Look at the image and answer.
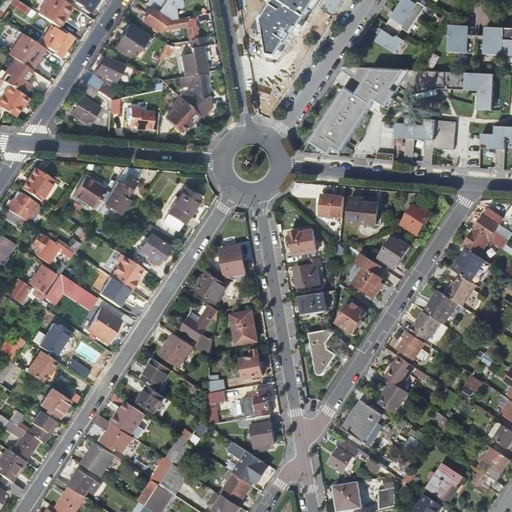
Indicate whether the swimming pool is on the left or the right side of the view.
left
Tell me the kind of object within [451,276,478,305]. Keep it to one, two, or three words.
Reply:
house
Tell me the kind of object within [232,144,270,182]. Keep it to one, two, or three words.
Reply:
roundabout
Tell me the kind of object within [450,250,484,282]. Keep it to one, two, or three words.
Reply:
house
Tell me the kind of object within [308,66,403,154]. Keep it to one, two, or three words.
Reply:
building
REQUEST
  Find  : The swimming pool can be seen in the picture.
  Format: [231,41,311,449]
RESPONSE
[74,342,100,364]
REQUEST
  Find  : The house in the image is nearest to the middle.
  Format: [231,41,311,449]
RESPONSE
[218,244,246,278]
